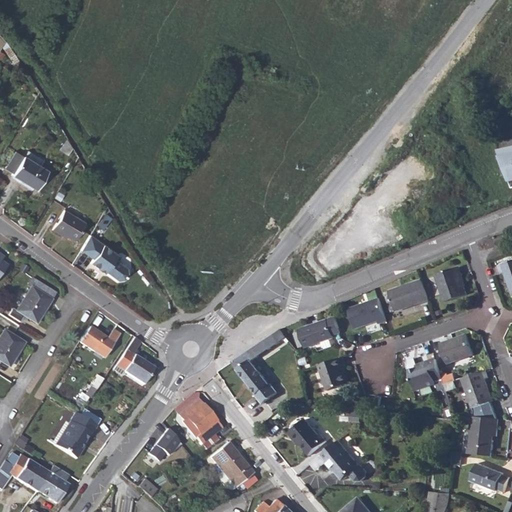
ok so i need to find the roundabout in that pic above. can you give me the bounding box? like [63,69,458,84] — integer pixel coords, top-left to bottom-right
[166,322,219,384]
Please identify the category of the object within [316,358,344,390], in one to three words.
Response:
house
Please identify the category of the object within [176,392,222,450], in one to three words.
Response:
building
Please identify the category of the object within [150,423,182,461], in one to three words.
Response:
house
